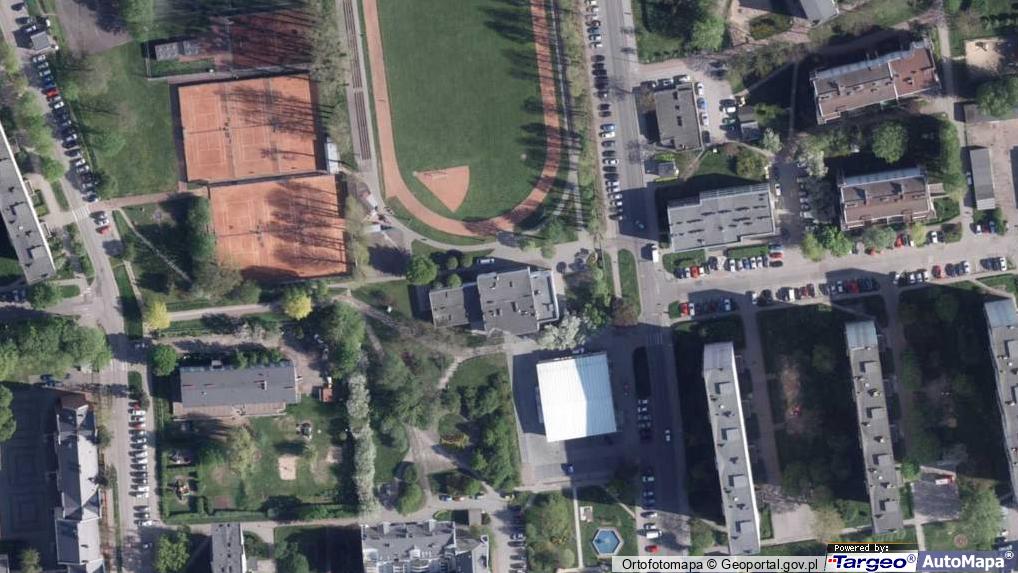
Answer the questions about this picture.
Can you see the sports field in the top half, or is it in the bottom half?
top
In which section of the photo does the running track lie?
top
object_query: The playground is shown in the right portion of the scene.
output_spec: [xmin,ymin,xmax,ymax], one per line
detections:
[965,37,1011,75]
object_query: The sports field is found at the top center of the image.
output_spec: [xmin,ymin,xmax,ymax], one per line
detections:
[379,0,546,220]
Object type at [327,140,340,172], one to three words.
shed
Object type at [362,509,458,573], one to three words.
building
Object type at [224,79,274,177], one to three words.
tennis court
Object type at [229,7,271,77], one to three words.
tennis court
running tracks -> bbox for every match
[362,0,561,237]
